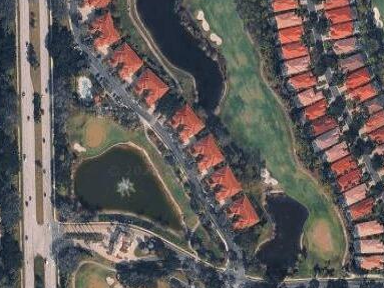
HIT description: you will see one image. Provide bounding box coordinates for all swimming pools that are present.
[77,76,92,99]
